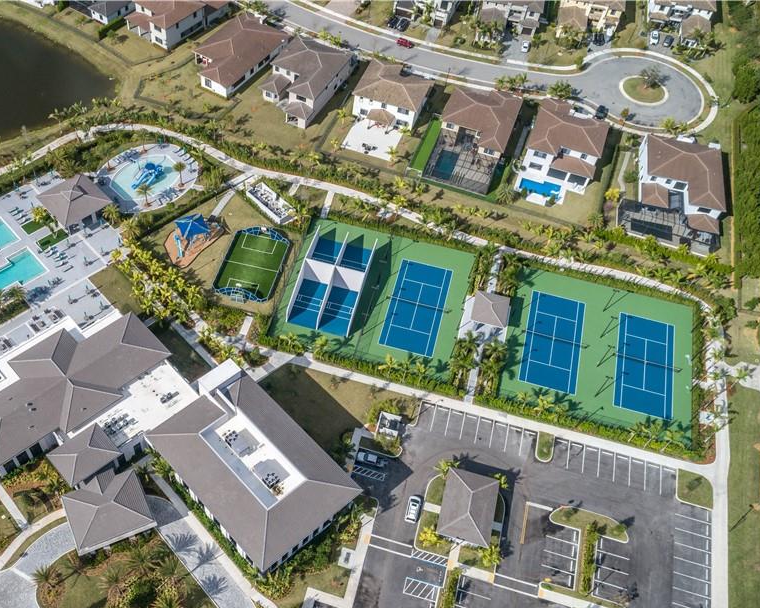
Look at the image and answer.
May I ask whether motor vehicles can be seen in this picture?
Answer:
Yes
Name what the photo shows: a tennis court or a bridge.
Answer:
tennis court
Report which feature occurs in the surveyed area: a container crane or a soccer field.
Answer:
soccer field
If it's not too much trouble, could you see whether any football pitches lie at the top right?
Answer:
No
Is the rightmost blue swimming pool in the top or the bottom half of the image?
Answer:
top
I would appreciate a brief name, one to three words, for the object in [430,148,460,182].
swimming pool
